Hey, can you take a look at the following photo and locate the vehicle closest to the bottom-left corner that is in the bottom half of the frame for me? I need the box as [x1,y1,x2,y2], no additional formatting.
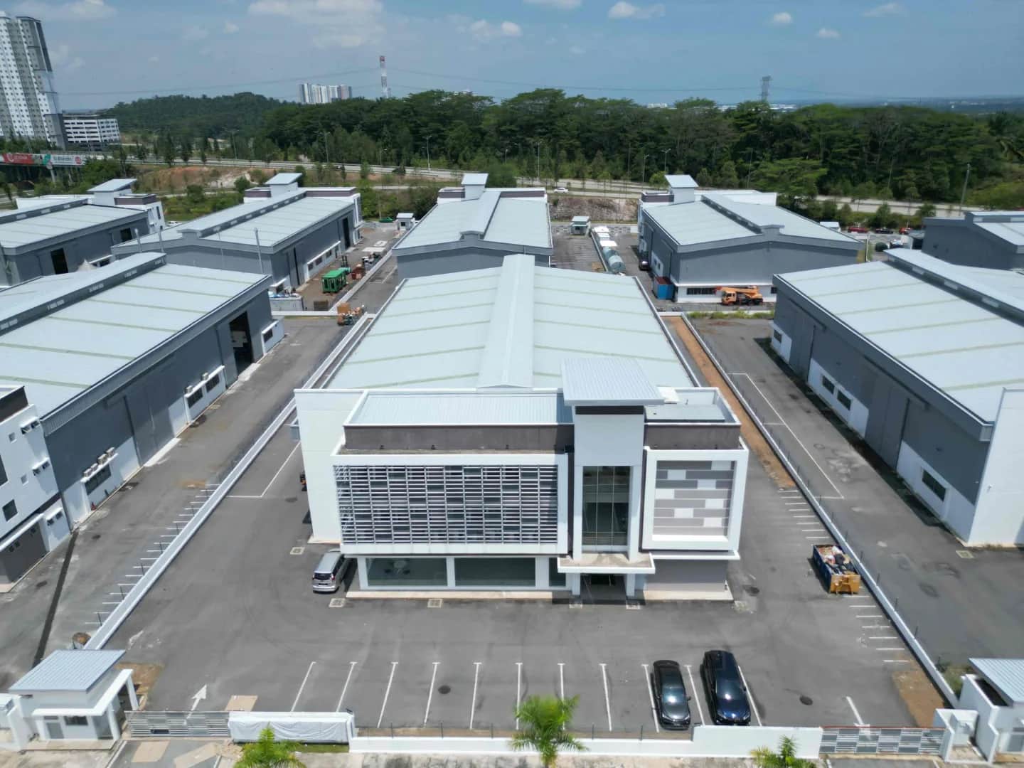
[312,545,352,588]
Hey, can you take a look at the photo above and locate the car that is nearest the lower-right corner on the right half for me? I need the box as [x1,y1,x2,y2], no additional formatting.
[699,644,749,719]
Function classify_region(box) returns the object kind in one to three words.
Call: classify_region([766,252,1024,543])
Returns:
building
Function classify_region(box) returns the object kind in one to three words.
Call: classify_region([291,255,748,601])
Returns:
building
